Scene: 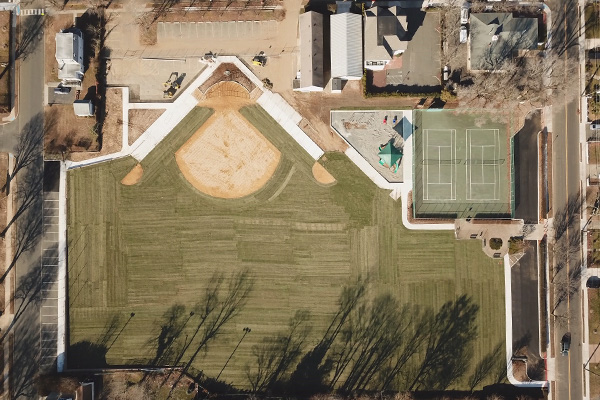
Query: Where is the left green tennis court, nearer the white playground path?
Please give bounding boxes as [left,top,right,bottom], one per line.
[414,110,461,218]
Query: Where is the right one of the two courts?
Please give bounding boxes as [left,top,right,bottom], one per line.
[461,110,507,218]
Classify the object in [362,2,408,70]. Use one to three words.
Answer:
building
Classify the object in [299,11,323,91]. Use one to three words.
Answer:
barn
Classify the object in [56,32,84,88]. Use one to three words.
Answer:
house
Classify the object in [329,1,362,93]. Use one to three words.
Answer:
barn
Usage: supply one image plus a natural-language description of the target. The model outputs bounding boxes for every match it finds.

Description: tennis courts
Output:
[414,110,461,218]
[461,110,507,218]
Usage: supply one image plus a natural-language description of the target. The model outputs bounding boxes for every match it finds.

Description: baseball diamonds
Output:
[66,63,511,395]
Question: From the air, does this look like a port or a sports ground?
sports ground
